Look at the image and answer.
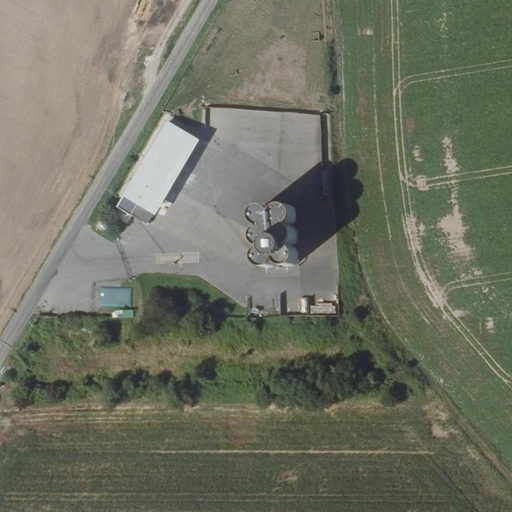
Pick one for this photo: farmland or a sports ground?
farmland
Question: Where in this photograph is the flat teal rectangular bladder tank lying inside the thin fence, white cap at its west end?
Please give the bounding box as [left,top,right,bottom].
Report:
[101,287,134,308]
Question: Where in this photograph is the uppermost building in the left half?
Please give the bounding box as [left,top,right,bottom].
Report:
[117,121,200,224]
